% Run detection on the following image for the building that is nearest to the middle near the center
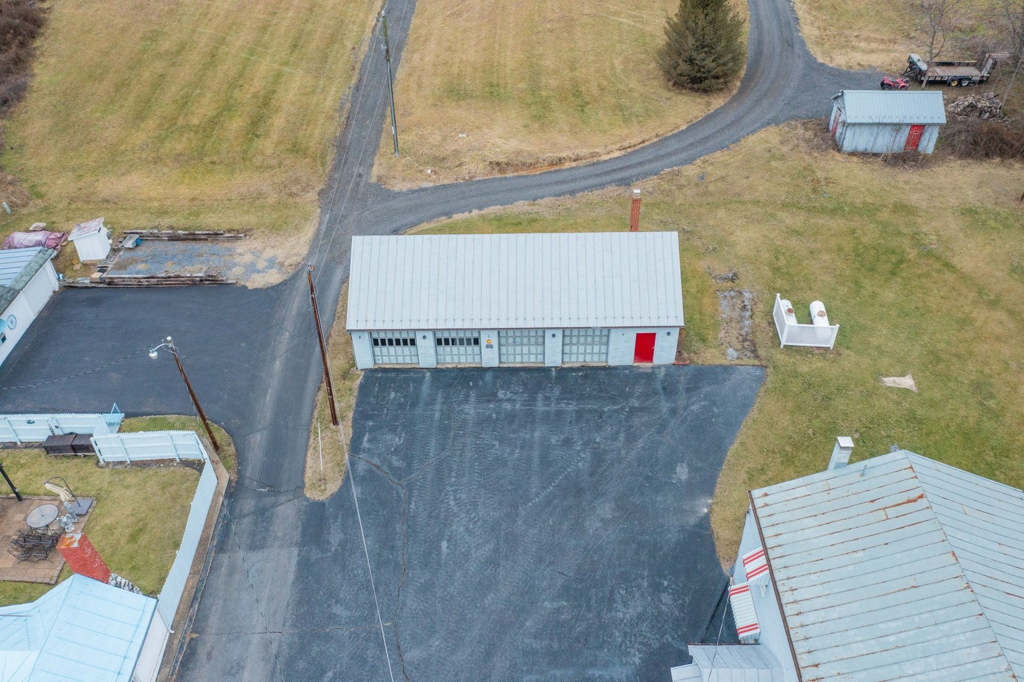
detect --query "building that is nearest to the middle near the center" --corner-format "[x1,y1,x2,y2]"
[347,189,684,369]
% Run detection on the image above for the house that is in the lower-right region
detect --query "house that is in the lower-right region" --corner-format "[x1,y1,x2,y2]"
[674,435,1024,682]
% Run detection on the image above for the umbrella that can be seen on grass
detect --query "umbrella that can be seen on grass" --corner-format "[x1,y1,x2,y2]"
[28,471,93,515]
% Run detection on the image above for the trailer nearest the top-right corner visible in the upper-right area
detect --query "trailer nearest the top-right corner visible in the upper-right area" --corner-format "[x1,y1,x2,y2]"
[900,44,1001,84]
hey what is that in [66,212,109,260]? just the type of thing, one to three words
shed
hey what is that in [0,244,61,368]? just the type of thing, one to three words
building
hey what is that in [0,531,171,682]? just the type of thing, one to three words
house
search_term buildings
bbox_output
[0,244,61,368]
[825,90,949,152]
[347,189,684,369]
[0,531,171,682]
[66,212,109,260]
[674,435,1024,682]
